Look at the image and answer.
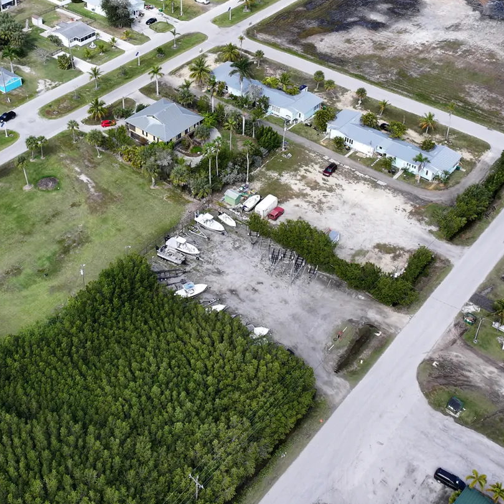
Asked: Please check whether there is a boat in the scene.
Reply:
Yes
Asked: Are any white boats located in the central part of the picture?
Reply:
Yes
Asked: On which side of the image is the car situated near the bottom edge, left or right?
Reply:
right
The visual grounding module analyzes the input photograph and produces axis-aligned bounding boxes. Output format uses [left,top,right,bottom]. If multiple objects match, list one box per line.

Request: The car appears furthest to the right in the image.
[432,464,466,492]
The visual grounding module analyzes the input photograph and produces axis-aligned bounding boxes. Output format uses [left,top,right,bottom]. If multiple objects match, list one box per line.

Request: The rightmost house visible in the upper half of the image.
[328,113,460,185]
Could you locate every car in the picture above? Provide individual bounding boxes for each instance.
[432,464,466,492]
[324,163,336,177]
[98,119,118,128]
[144,19,159,25]
[267,207,284,220]
[0,113,16,122]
